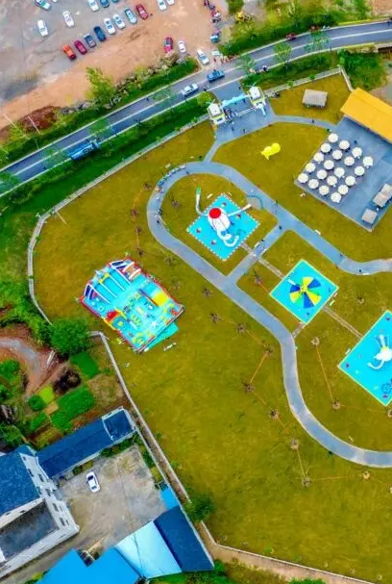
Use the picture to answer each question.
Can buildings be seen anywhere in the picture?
Yes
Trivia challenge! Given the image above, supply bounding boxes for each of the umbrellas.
[307,164,317,175]
[333,150,344,161]
[322,143,333,155]
[328,176,339,189]
[340,140,350,153]
[335,168,346,181]
[299,174,310,186]
[345,156,355,169]
[331,193,342,205]
[352,147,364,159]
[309,180,320,191]
[320,186,331,198]
[324,160,335,172]
[346,176,357,189]
[329,133,340,146]
[315,152,325,165]
[364,156,375,170]
[338,185,349,197]
[318,170,328,182]
[355,167,367,179]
